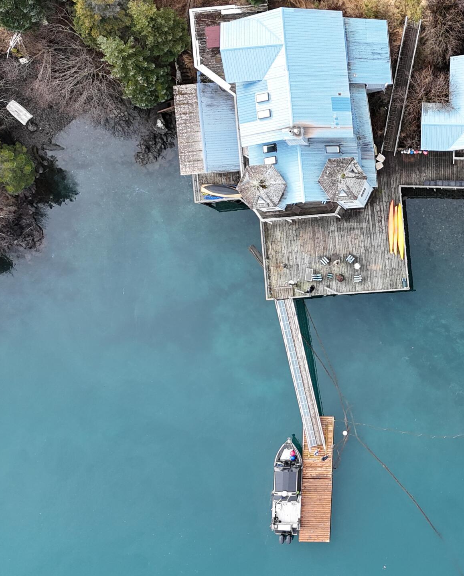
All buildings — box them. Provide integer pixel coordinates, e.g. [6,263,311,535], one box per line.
[421,55,464,165]
[220,6,394,215]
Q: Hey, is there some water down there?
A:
Yes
